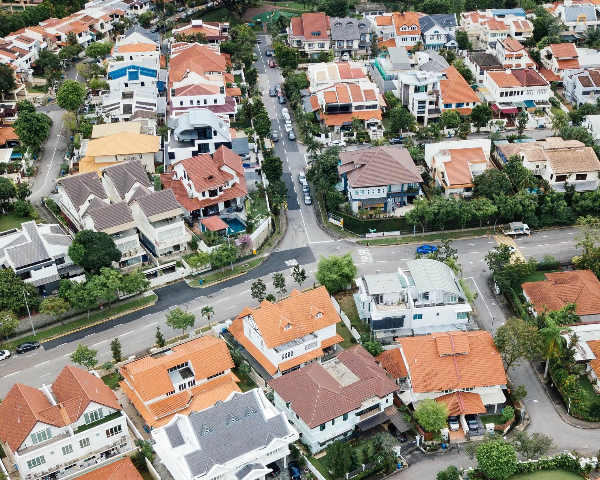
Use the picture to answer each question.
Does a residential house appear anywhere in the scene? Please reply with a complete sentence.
Yes, this view includes a residential house.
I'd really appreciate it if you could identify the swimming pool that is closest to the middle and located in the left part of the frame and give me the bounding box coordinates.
[222,216,246,233]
